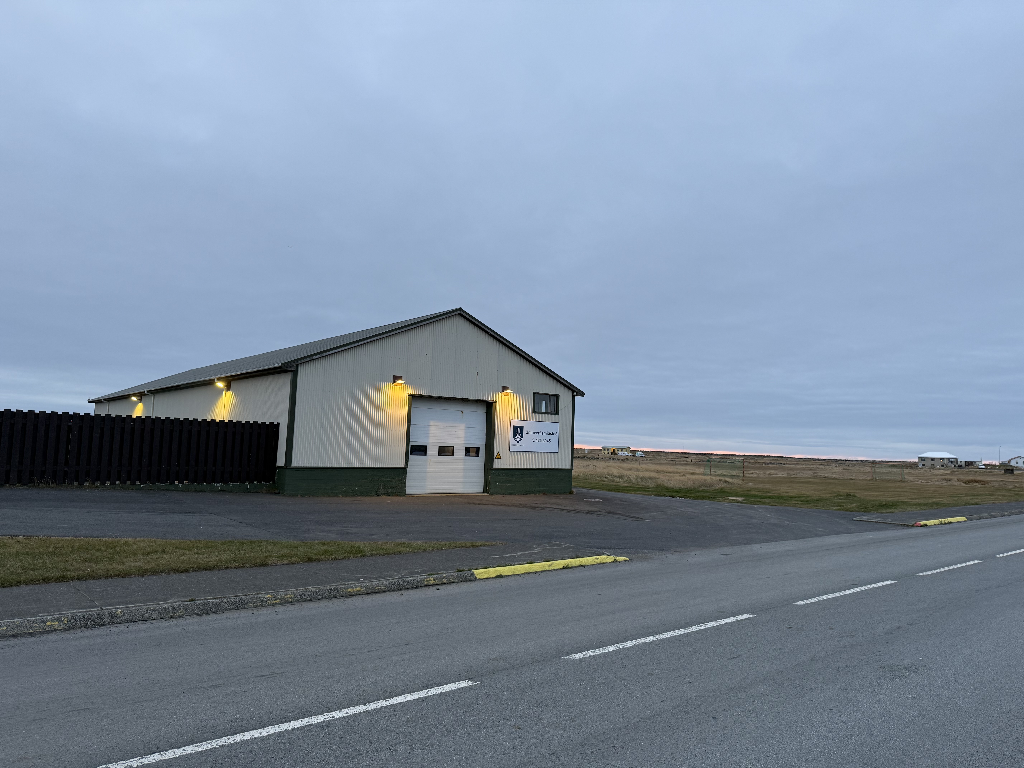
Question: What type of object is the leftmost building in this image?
warehouse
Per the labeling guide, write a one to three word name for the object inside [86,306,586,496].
warehouse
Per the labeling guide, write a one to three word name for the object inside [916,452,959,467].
house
